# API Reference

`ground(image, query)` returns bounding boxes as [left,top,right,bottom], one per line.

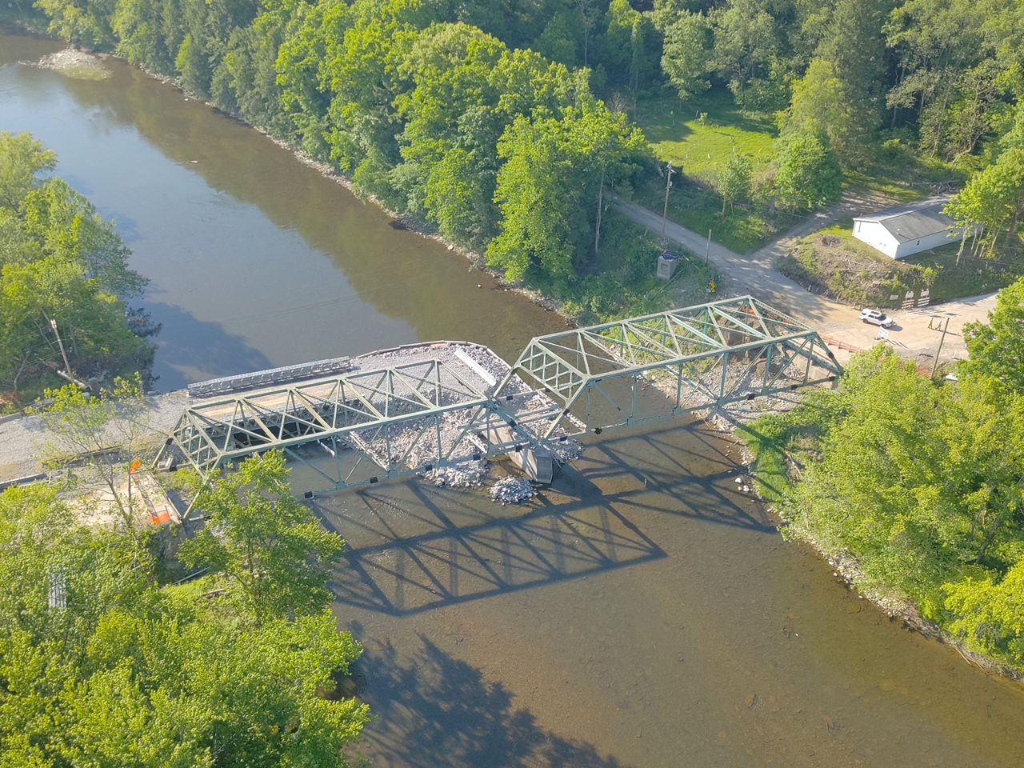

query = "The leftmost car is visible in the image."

[859,306,897,331]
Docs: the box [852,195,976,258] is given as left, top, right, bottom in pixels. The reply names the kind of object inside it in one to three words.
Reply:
house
